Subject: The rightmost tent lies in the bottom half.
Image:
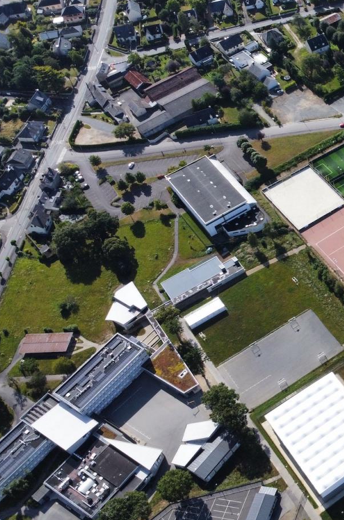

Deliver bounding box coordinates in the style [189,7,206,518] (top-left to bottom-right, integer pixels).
[185,297,226,330]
